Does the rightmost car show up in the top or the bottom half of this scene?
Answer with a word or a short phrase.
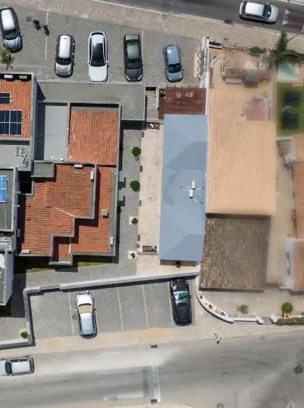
top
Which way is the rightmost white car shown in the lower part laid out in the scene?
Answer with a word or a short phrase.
vertically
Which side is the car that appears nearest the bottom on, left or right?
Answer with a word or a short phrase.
left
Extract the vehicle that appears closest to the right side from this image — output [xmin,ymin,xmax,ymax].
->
[238,1,278,24]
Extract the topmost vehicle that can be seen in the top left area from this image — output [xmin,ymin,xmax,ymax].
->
[0,7,22,52]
